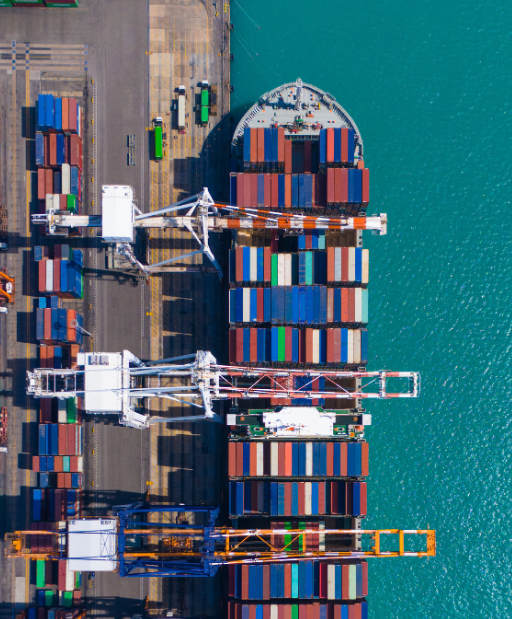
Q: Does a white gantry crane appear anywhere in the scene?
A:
Yes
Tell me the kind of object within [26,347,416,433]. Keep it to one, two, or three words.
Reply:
container crane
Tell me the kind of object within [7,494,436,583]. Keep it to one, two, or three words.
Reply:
container crane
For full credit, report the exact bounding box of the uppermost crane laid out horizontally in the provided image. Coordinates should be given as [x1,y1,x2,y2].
[33,184,387,288]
